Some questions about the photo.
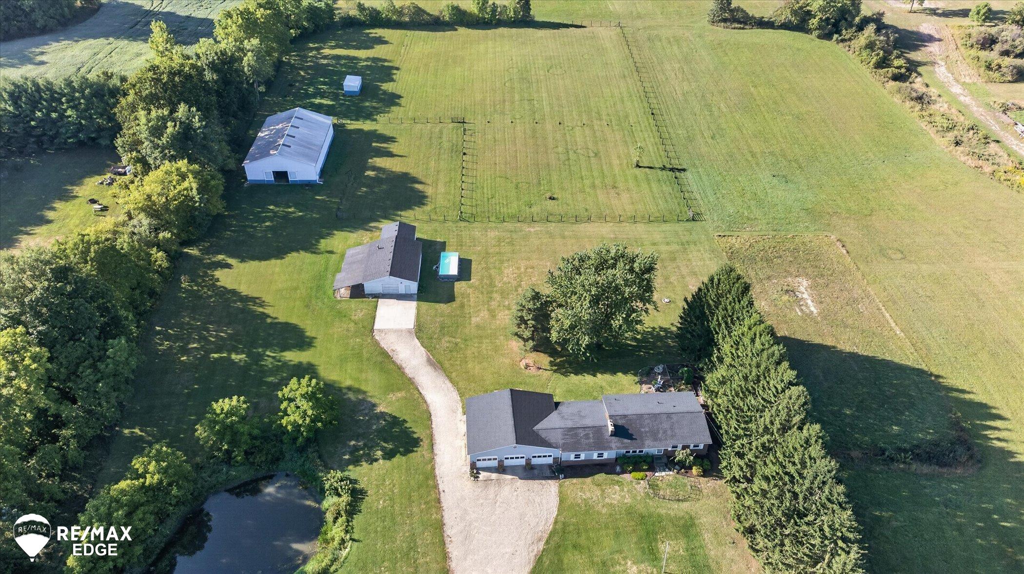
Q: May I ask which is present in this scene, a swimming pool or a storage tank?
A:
swimming pool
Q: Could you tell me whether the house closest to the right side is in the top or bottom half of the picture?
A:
bottom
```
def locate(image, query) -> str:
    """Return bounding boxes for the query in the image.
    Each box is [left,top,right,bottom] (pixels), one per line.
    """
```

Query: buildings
[333,221,423,295]
[465,388,714,469]
[343,75,362,96]
[242,107,333,185]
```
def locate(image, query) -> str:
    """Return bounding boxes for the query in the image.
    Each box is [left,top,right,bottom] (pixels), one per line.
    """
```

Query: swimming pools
[437,252,462,282]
